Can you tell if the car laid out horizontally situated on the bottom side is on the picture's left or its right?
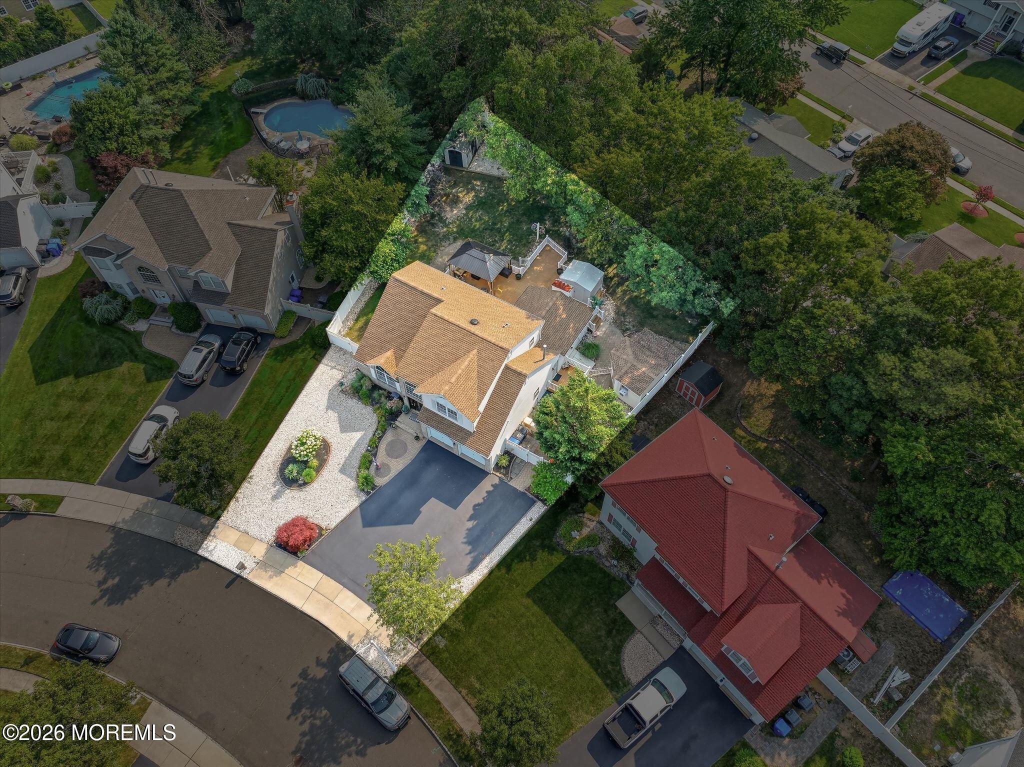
left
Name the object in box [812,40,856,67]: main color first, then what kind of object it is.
black car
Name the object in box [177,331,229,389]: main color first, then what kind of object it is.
gray car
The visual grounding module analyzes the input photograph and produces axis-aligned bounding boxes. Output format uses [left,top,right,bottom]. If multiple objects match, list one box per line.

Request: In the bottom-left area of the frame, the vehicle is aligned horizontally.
[49,627,131,668]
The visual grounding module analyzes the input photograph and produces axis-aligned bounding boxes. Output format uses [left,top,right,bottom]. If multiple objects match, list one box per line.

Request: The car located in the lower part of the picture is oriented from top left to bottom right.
[336,653,415,736]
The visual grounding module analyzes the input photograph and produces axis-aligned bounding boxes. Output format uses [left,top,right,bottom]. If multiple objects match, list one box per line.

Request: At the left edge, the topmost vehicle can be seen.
[0,263,36,311]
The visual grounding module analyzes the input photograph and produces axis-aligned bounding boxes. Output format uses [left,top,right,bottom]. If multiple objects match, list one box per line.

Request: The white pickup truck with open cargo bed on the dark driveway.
[599,663,690,755]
